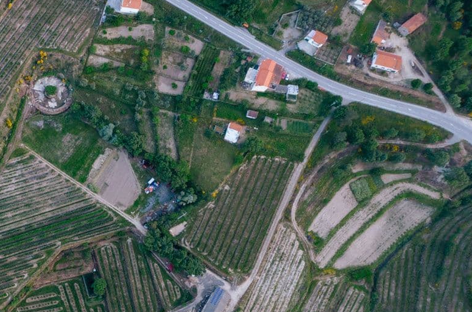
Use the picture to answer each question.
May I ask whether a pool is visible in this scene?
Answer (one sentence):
No, there appears to be no pool in this shot.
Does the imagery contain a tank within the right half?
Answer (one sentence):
No, looking within the right half, there is no tank.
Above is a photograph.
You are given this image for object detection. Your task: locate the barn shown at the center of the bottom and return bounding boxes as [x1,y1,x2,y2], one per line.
[197,285,231,312]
